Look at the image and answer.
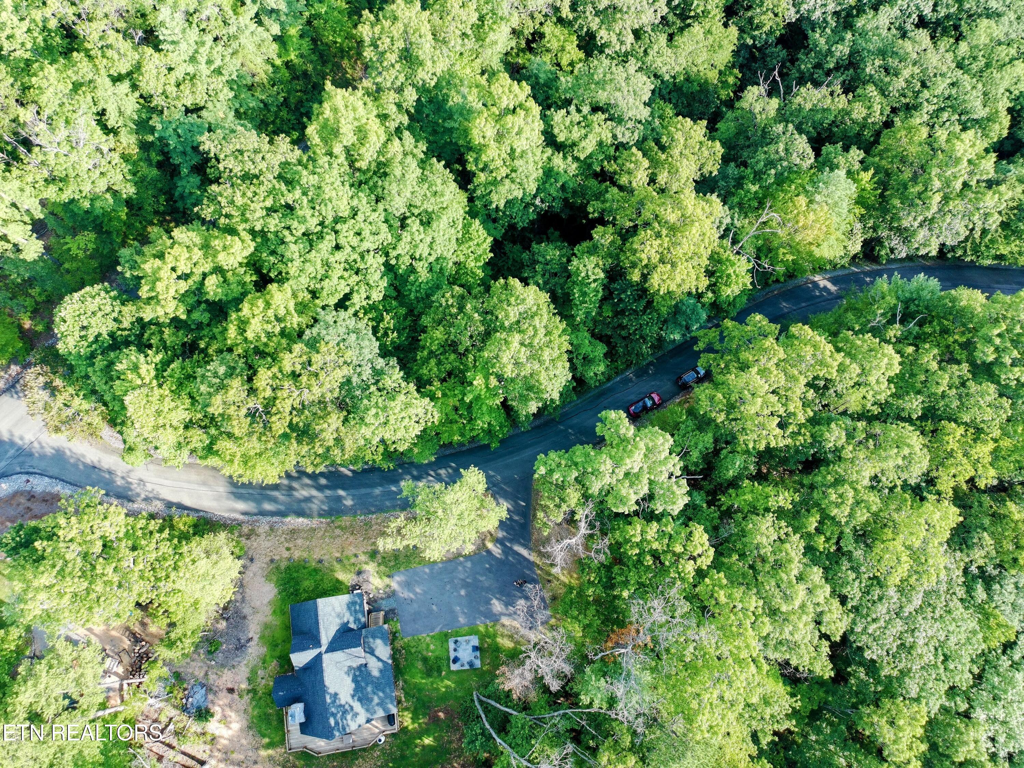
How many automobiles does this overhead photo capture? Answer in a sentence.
The photo contains 2 automobiles.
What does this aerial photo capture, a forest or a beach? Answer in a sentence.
It's a forest.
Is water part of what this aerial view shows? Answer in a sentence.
No, no water is visible.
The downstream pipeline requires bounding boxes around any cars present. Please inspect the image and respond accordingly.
[627,391,663,417]
[673,365,710,390]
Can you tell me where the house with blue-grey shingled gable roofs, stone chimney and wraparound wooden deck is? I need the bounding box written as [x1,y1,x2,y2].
[272,591,400,756]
